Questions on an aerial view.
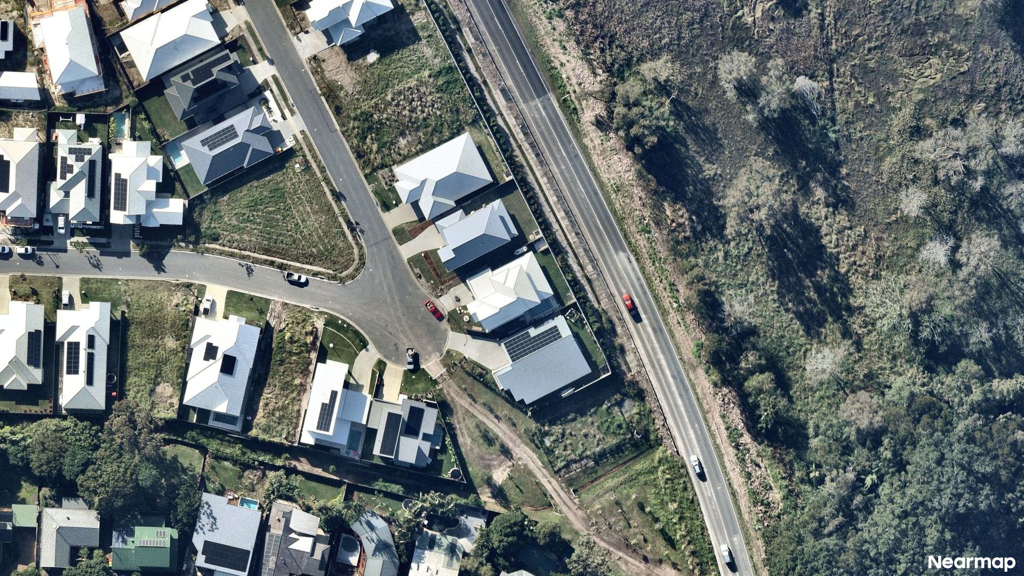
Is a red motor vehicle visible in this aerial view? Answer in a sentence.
Yes, there's a red motor vehicle here.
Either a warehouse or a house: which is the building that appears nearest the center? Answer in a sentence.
The building that appears nearest the center in the image is a house.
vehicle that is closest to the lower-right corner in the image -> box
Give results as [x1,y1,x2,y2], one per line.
[720,543,733,567]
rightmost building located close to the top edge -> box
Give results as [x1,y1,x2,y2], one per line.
[306,0,394,45]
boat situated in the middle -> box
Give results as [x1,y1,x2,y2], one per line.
[510,245,530,258]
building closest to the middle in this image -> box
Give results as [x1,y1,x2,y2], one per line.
[467,251,554,333]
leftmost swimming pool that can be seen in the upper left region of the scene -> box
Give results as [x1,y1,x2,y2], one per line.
[109,112,127,140]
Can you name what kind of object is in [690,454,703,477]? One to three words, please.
vehicle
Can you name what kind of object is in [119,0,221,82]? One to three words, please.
house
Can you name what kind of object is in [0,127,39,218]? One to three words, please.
house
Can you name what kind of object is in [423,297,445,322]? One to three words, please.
truck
